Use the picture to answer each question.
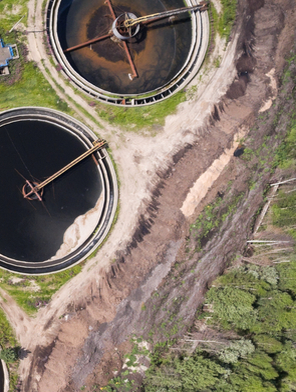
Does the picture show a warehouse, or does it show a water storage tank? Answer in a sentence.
Visible in the photo is a water storage tank.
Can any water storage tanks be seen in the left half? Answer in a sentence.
Yes, in the left half there is a water storage tank.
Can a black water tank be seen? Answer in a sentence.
Yes, this view includes a black water tank.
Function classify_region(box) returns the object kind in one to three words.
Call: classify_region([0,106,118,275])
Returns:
water tank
